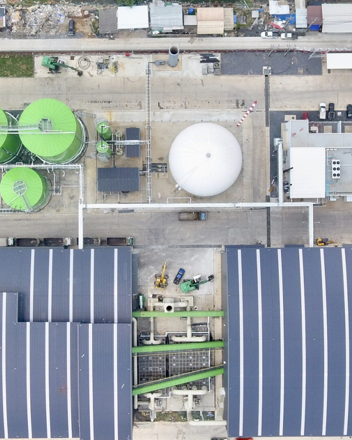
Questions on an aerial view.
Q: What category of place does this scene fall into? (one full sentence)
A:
The picture captures an industrial area.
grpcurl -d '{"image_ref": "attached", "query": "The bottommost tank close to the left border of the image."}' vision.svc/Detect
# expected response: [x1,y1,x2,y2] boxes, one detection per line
[0,166,51,211]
